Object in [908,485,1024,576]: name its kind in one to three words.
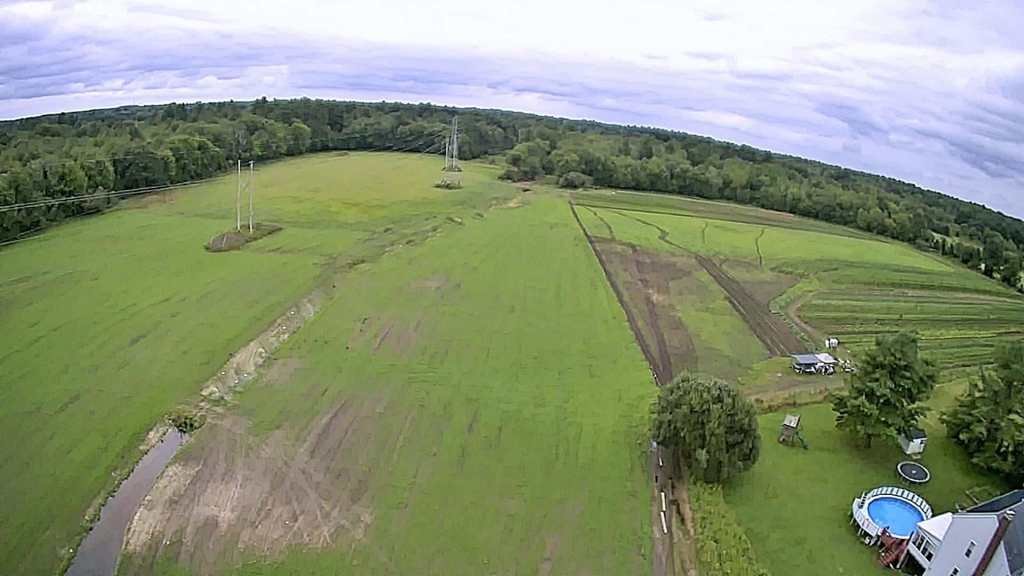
house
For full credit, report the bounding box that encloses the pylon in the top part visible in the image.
[440,119,466,183]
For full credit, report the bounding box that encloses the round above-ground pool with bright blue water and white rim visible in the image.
[844,484,934,549]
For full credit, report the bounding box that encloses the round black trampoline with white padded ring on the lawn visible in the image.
[894,460,931,489]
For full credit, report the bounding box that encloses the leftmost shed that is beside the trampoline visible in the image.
[900,424,930,457]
